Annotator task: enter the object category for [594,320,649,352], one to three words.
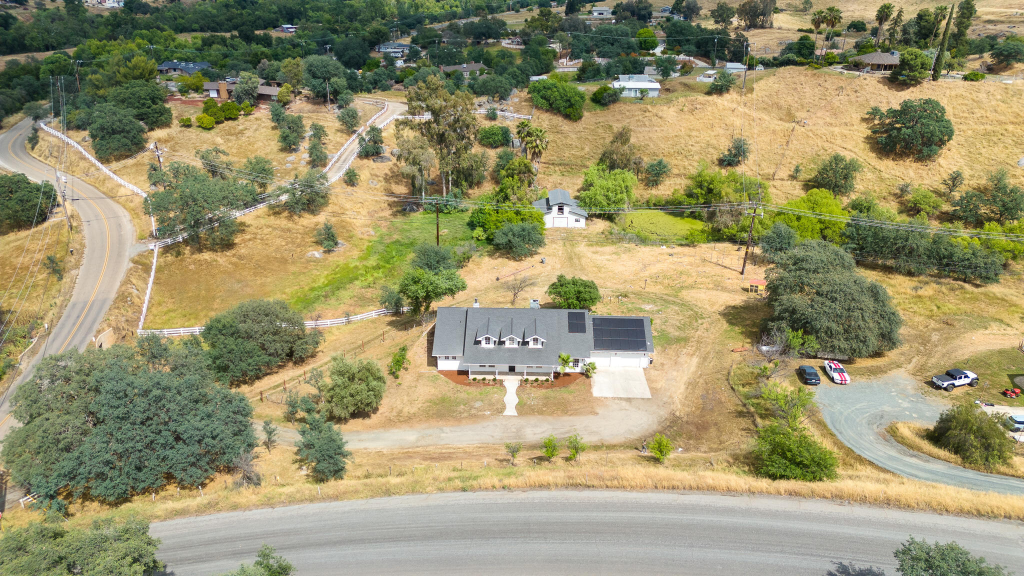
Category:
solar array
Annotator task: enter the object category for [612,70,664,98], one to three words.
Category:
house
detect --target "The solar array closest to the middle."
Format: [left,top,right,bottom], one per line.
[567,313,585,334]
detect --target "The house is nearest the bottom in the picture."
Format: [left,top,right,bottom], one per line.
[431,292,655,385]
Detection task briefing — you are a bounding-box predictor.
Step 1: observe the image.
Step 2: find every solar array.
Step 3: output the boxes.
[567,313,585,334]
[594,320,649,352]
